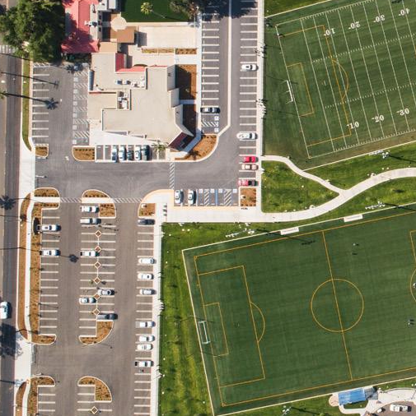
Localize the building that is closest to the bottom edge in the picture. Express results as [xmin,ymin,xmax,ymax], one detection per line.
[87,52,191,150]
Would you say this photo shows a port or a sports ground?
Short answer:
sports ground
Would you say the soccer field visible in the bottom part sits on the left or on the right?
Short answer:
right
